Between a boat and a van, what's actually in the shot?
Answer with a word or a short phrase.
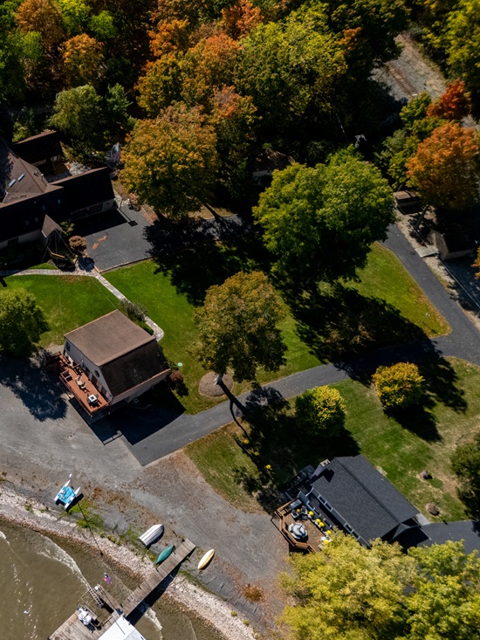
boat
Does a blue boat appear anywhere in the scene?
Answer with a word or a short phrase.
Yes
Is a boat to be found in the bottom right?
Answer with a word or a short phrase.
No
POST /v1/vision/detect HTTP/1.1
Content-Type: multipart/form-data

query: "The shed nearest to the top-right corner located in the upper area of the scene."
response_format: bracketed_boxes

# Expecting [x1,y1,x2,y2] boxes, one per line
[388,189,420,208]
